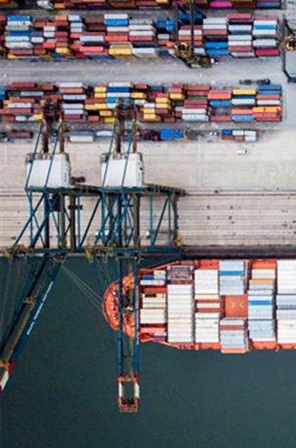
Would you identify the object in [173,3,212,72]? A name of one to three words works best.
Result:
container crane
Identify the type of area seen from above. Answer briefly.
port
